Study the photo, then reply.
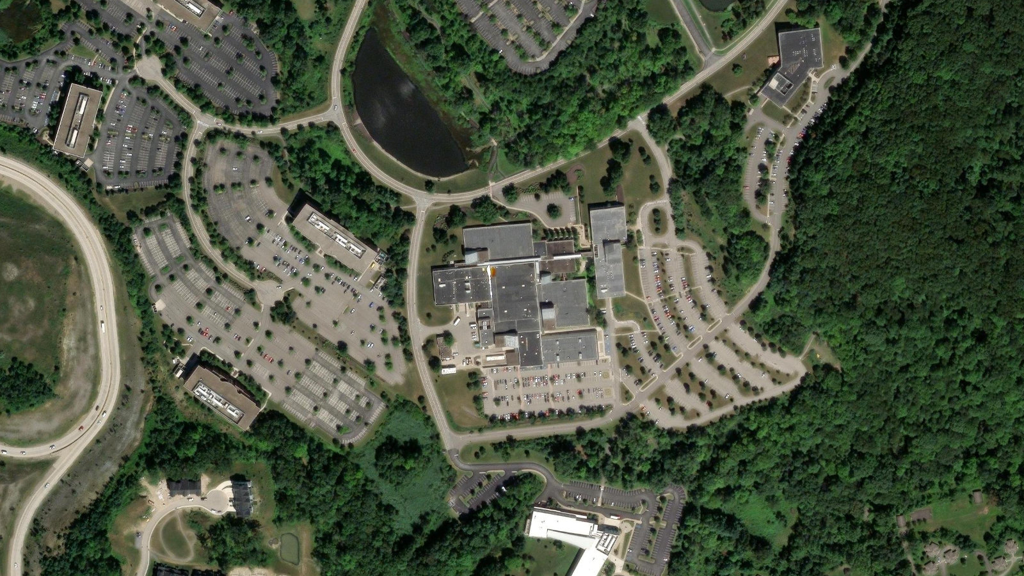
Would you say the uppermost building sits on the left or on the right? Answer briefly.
left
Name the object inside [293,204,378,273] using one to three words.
building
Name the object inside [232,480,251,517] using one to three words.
house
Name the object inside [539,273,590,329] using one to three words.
building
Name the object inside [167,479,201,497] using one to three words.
house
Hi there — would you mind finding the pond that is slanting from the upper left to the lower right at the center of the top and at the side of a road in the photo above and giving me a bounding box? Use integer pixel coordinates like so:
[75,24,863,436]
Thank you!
[352,27,471,178]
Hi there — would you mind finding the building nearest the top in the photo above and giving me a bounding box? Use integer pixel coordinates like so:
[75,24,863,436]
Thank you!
[159,0,222,33]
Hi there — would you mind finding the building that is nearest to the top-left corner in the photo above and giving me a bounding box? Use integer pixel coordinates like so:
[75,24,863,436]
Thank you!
[53,83,104,158]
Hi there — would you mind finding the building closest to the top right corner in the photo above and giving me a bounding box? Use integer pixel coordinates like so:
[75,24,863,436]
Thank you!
[761,28,824,109]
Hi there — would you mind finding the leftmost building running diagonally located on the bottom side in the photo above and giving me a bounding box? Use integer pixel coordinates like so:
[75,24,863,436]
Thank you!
[184,365,261,431]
